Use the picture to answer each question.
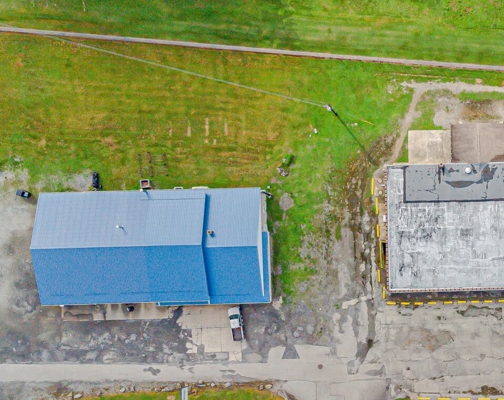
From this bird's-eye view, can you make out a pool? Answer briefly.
No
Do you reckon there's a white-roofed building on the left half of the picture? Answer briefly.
No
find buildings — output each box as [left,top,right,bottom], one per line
[381,163,504,296]
[30,185,275,309]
